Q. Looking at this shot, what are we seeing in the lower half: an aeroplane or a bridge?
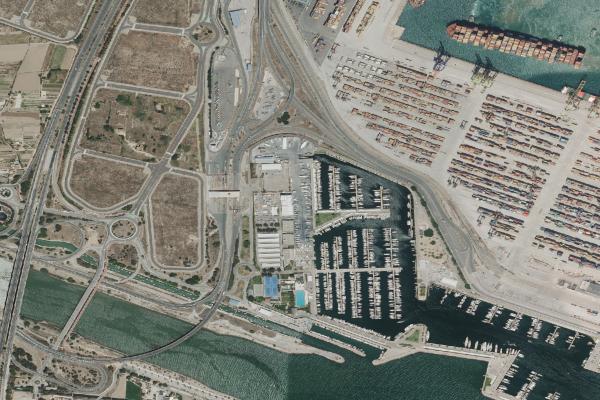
bridge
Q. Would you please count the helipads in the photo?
zero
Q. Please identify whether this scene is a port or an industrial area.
port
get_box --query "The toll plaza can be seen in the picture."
[207,114,256,262]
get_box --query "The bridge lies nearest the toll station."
[118,262,232,362]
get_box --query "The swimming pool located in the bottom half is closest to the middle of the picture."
[294,281,306,309]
